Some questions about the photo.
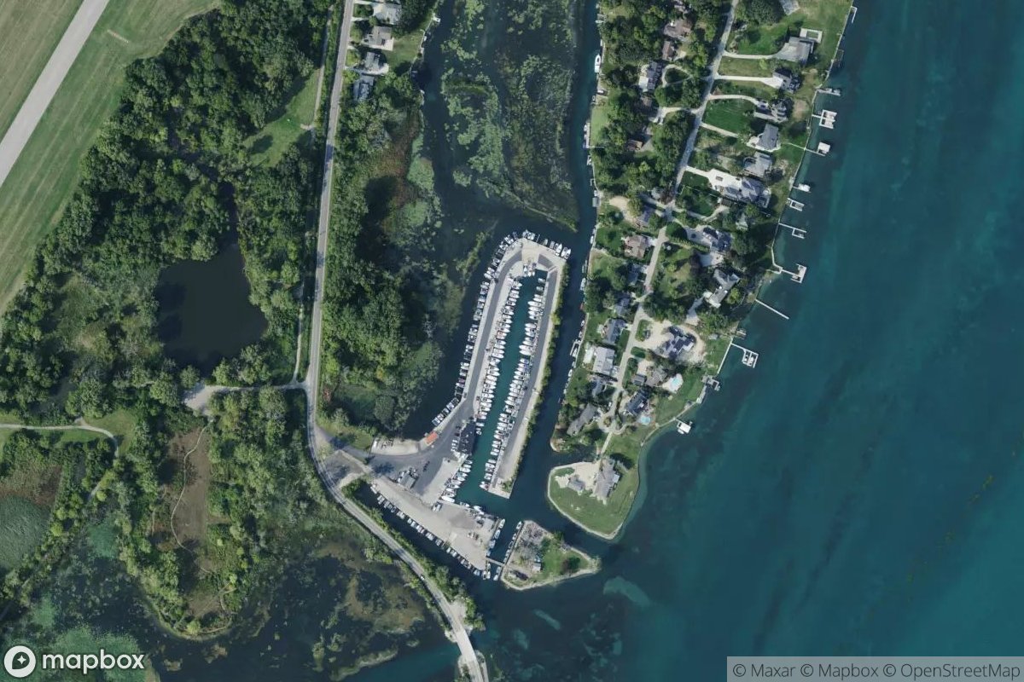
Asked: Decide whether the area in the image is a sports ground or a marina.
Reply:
marina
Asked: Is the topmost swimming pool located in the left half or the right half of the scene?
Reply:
right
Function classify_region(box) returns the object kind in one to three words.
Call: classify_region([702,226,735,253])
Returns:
house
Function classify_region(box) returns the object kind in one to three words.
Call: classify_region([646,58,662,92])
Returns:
house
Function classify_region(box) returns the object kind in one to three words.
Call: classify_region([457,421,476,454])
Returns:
building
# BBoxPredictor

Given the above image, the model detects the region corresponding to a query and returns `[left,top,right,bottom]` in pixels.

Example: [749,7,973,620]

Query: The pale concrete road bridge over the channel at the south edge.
[448,621,479,672]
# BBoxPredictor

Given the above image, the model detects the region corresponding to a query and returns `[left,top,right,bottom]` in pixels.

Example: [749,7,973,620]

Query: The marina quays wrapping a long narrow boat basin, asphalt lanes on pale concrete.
[317,238,570,571]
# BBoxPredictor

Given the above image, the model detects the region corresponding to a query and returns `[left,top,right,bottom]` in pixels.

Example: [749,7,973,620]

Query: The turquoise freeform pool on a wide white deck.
[662,373,683,393]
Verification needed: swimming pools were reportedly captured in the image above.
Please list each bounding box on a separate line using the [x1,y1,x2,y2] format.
[639,412,652,425]
[662,373,683,393]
